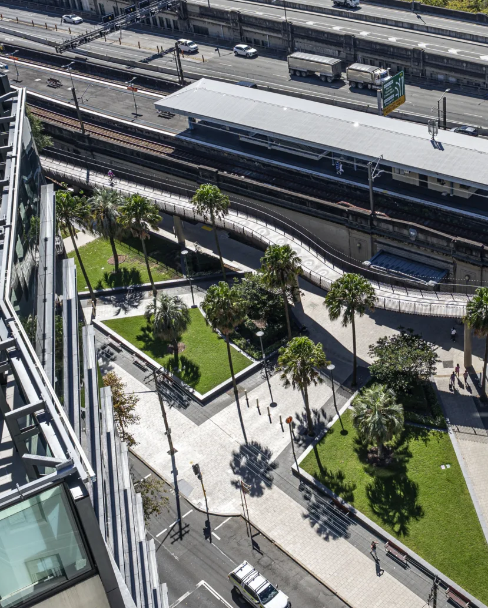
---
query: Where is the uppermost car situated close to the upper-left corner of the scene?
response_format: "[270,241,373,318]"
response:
[57,11,86,24]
